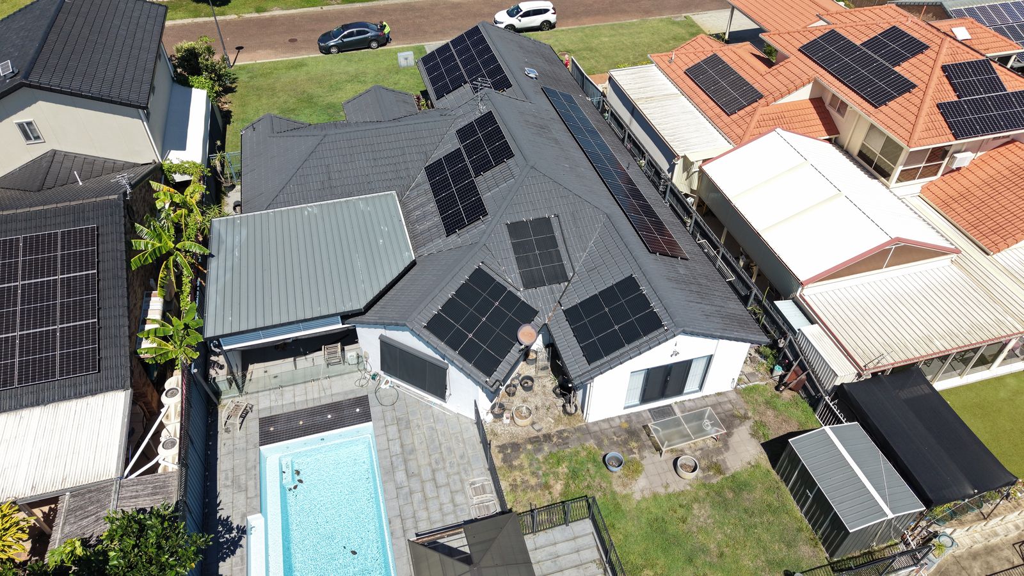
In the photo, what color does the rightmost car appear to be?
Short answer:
white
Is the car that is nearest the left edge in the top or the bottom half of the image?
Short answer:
top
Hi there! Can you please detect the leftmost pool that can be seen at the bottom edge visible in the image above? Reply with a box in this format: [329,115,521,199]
[244,419,398,576]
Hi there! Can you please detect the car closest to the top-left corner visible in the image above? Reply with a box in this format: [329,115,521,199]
[317,21,385,53]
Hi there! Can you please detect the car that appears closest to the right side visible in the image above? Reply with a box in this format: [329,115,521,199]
[493,0,557,32]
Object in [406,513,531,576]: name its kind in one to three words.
gazebo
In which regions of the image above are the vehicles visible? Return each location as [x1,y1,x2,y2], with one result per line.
[317,21,385,53]
[493,0,557,32]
